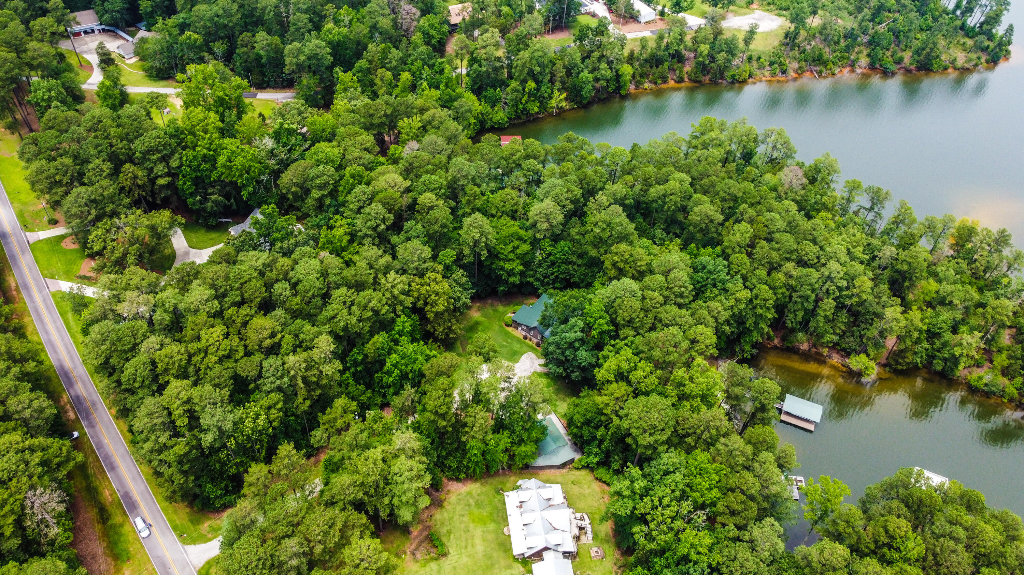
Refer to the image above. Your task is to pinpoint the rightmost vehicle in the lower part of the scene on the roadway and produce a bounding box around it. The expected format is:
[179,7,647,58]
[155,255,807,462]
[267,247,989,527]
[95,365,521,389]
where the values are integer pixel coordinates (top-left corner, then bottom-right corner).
[132,520,148,540]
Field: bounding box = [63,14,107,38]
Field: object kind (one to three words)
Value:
building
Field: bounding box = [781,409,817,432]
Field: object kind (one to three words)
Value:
pier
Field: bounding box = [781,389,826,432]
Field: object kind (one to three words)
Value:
building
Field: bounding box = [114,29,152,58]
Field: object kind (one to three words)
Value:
house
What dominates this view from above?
trees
